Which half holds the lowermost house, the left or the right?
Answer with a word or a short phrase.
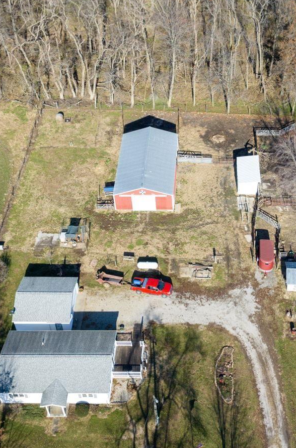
left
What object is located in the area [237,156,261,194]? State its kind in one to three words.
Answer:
shed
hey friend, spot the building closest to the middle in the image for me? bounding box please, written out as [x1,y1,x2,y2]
[113,126,179,211]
